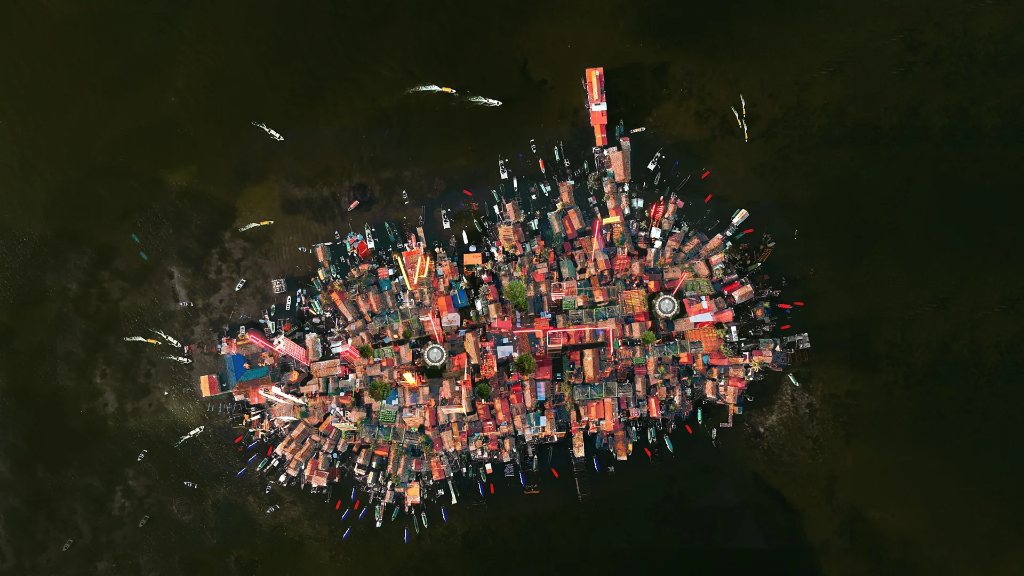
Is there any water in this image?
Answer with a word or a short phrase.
Yes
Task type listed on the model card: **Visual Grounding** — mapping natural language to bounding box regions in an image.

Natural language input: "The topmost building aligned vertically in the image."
[585,66,609,126]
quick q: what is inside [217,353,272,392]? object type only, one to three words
building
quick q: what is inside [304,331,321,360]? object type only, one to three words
house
